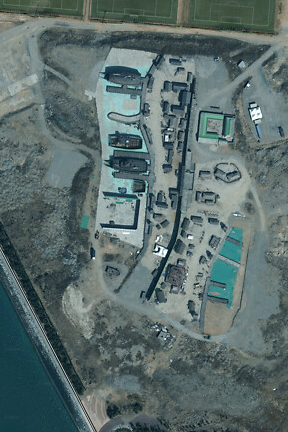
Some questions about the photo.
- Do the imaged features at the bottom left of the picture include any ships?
No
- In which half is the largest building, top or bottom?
top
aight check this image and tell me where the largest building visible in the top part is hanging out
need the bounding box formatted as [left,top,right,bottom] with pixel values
[198,112,234,141]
